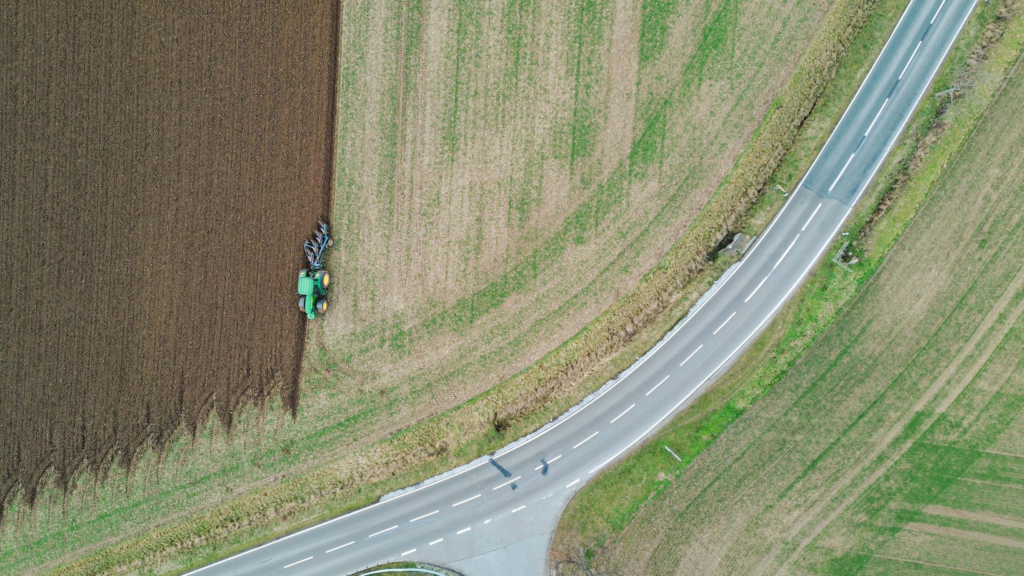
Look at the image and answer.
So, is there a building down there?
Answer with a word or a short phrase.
No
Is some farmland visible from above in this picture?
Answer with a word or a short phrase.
Yes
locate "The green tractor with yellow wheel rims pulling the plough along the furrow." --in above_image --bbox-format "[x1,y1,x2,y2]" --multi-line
[298,264,331,319]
